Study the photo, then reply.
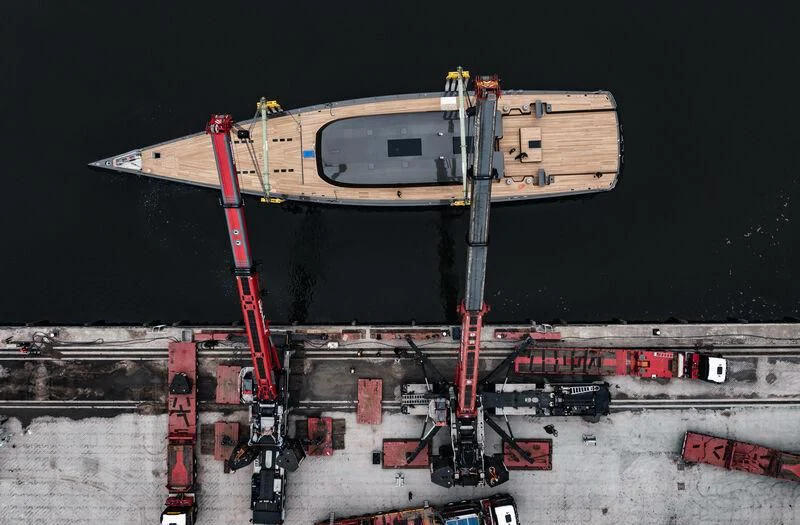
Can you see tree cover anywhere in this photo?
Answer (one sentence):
No, the scene doesn't show any tree cover.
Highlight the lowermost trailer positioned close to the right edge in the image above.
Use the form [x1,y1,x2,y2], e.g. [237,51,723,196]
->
[679,430,800,482]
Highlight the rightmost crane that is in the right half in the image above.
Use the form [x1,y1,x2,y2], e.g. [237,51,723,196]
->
[401,77,609,488]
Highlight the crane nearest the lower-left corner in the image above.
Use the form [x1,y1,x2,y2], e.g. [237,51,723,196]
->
[205,112,324,524]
